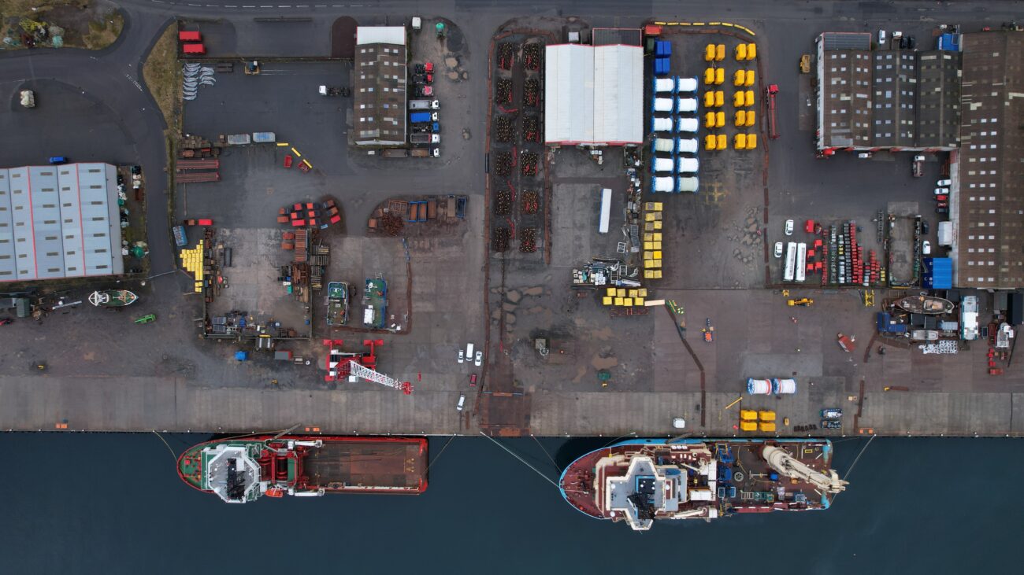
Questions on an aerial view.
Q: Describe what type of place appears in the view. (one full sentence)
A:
The area seen from above is a port.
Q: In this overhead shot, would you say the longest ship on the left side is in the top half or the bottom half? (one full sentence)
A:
The longest ship on the left side is in the bottom half of the image.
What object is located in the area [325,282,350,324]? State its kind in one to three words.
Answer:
ship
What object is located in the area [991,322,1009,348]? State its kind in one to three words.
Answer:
boat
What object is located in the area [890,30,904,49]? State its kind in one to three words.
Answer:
vehicle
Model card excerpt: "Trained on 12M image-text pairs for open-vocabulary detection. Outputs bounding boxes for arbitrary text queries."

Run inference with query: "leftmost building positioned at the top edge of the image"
[355,25,408,149]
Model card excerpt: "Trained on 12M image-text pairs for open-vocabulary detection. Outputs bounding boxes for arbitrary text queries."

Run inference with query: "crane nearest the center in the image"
[324,339,411,395]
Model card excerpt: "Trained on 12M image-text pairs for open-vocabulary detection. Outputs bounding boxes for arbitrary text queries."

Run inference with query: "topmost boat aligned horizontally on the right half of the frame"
[897,296,956,314]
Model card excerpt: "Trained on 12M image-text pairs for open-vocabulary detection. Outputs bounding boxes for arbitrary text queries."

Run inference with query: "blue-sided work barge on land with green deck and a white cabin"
[361,274,387,326]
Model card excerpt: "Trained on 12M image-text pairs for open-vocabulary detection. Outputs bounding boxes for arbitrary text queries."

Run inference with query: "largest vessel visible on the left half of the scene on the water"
[177,435,429,503]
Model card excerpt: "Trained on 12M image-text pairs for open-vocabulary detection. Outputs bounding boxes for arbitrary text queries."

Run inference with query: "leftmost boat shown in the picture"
[88,289,138,307]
